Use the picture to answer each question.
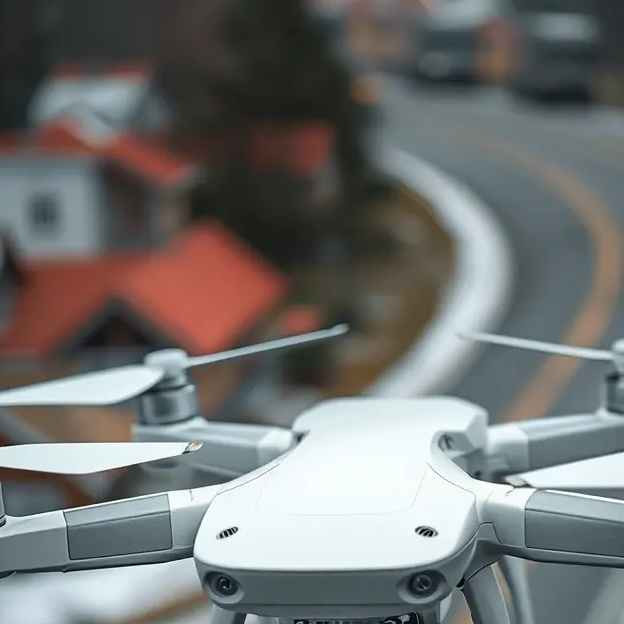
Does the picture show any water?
No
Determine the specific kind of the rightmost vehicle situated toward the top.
truck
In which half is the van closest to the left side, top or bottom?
top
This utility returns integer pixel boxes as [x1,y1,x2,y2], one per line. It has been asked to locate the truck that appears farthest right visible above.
[504,12,602,98]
